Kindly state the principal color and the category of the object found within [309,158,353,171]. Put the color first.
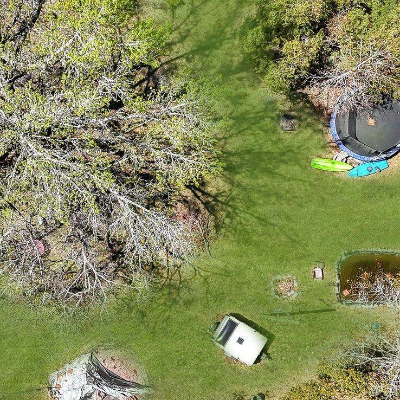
green boat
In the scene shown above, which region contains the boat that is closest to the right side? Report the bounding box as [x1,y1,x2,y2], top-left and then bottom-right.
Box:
[346,159,389,177]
